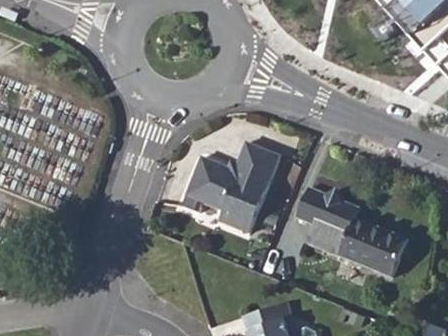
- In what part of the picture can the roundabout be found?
top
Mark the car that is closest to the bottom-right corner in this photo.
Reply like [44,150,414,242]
[282,256,294,277]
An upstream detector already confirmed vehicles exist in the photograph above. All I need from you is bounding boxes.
[168,108,187,126]
[386,104,409,119]
[282,256,294,277]
[398,139,420,154]
[264,250,280,272]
